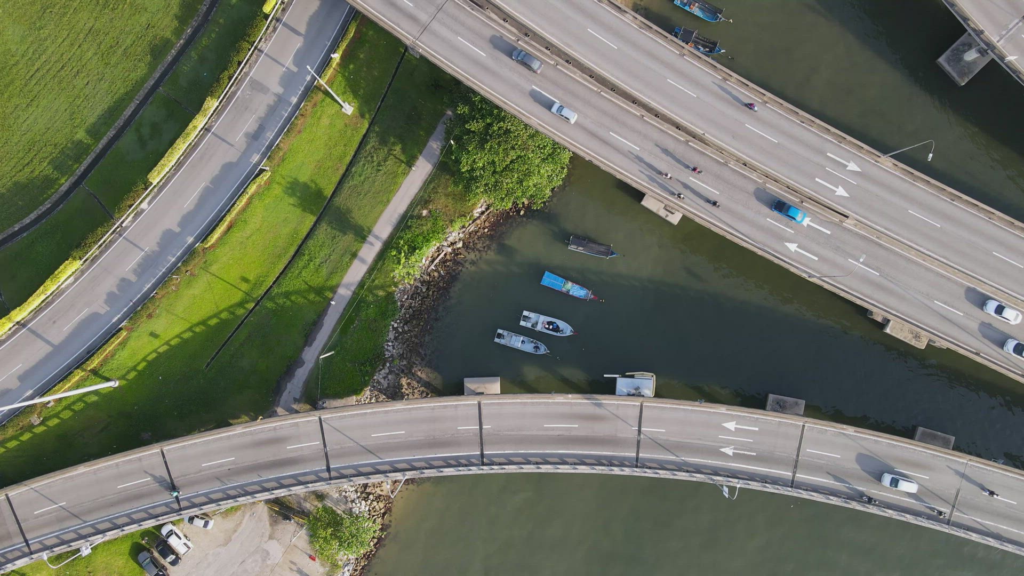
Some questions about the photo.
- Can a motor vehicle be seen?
Yes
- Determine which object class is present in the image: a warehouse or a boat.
boat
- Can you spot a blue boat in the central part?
Yes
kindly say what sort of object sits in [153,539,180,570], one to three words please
car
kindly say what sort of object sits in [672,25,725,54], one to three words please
boat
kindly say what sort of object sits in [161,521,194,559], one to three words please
truck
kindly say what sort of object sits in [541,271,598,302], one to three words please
boat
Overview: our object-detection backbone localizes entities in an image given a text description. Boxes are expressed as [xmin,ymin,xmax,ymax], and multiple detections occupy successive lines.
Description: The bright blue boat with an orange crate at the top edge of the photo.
[673,0,726,26]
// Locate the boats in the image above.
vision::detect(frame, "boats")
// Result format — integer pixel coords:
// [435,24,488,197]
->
[672,25,725,54]
[673,0,726,26]
[541,271,598,302]
[494,330,550,354]
[518,311,576,335]
[567,237,617,261]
